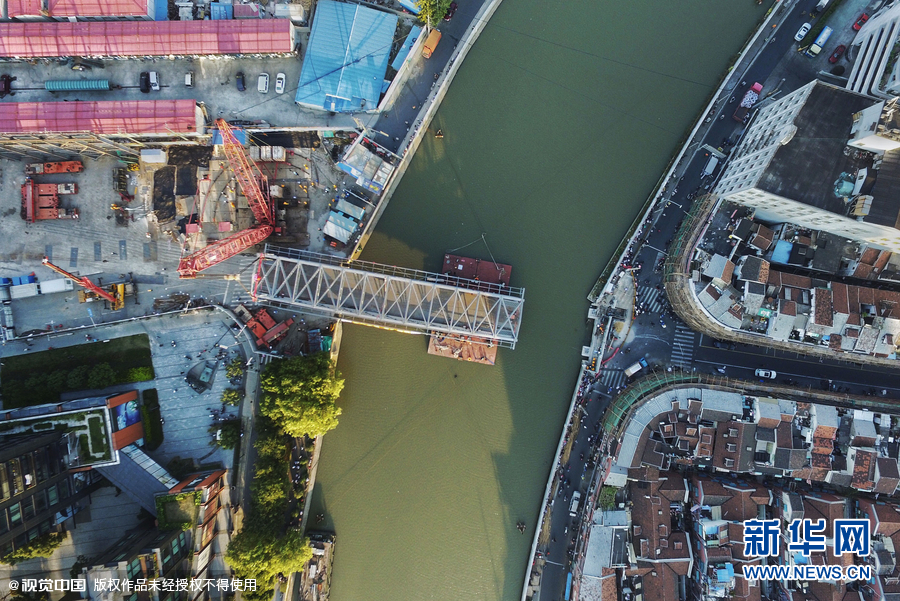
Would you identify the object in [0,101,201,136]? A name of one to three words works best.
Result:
shed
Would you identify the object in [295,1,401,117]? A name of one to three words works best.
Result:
building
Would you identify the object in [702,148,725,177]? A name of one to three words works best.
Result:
truck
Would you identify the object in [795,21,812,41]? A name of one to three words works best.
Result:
car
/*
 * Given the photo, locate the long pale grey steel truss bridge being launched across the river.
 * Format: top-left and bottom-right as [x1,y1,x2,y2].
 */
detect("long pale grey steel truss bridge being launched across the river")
[256,248,527,348]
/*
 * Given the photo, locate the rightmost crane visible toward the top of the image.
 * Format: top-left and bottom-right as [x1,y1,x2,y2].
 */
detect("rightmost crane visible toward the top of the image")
[171,114,294,281]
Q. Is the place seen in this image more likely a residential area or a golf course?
residential area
